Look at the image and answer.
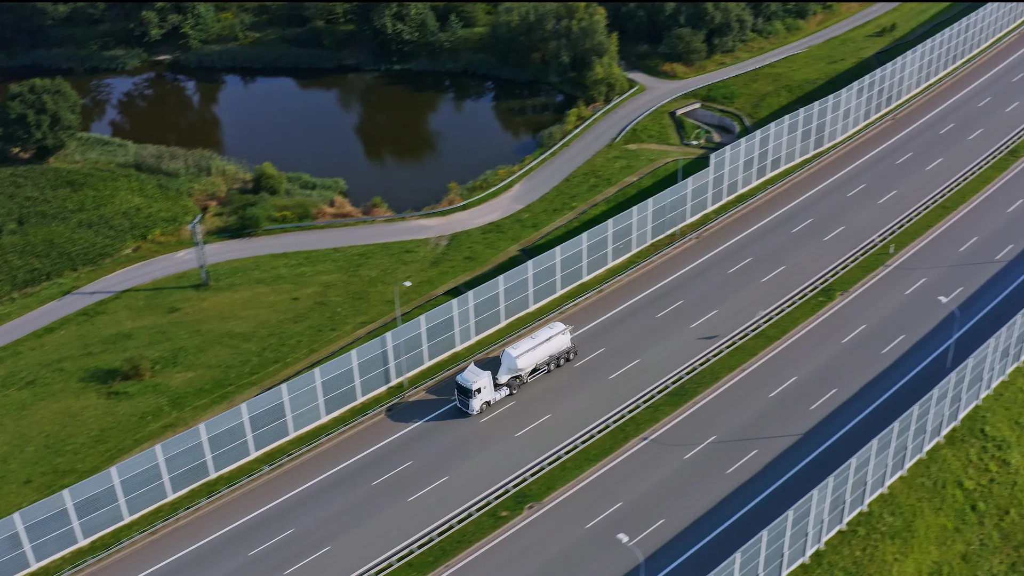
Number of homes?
0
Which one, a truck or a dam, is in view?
truck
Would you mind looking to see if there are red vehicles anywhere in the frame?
No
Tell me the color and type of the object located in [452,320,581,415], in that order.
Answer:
white truck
